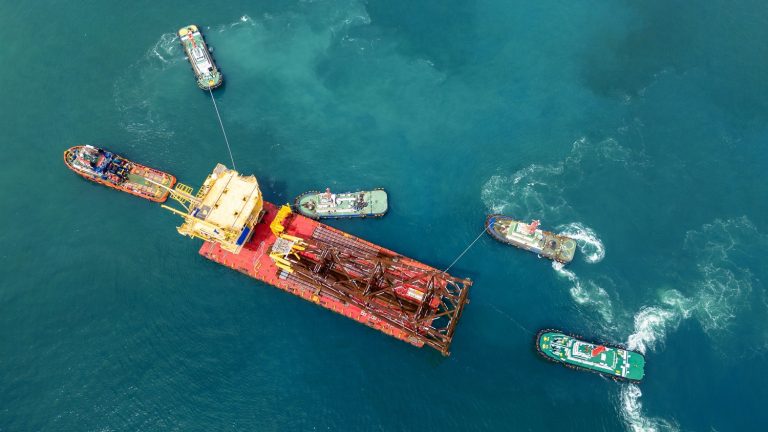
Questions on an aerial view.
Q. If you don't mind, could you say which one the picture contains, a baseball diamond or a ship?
ship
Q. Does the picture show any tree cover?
No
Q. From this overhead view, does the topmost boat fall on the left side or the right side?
left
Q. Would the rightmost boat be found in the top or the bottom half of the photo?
bottom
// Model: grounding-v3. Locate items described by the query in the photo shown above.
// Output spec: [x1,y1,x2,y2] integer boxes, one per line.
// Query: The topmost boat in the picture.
[176,23,220,91]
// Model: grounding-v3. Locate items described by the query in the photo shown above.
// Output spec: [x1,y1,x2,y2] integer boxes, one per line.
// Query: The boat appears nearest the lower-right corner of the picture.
[535,328,645,388]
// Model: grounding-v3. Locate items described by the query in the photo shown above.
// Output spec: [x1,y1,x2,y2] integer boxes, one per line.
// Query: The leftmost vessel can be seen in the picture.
[62,141,181,208]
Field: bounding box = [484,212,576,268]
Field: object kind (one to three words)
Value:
boat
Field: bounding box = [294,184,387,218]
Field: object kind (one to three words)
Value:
boat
